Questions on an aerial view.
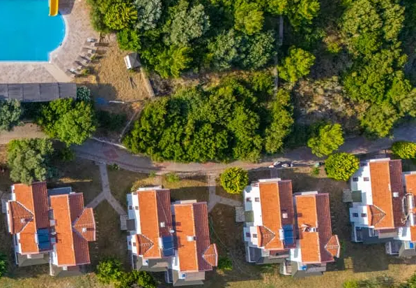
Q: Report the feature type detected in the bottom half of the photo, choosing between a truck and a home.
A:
home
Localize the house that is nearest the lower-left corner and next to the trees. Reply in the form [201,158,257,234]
[0,182,94,277]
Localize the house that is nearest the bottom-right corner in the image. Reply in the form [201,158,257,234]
[337,157,416,255]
